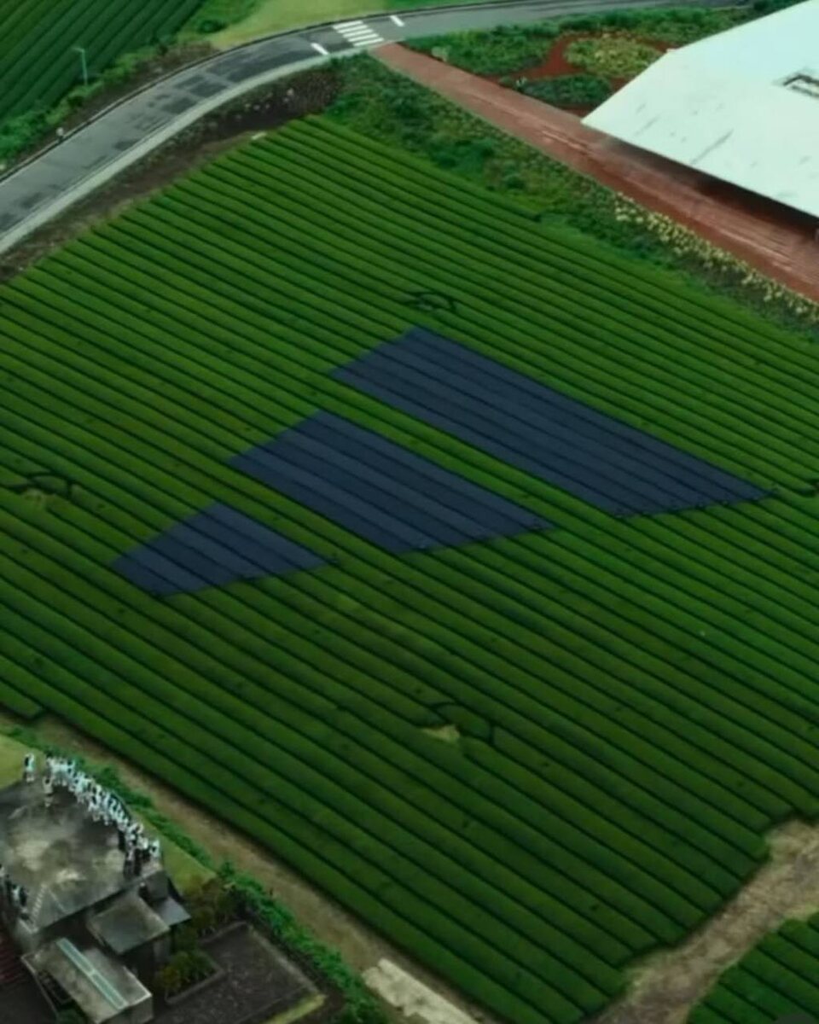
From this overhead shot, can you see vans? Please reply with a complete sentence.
No, no van can be seen from above.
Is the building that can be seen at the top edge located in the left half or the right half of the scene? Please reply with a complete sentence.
You can find the building that can be seen at the top edge on the right side of the picture.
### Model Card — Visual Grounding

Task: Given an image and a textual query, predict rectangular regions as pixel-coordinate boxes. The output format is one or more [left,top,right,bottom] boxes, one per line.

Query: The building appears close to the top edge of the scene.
[580,0,819,243]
